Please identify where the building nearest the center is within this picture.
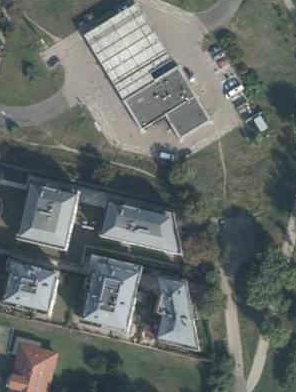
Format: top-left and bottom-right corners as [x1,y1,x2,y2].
[99,202,181,256]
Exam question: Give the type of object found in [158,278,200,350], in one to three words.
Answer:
house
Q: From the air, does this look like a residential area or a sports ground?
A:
residential area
